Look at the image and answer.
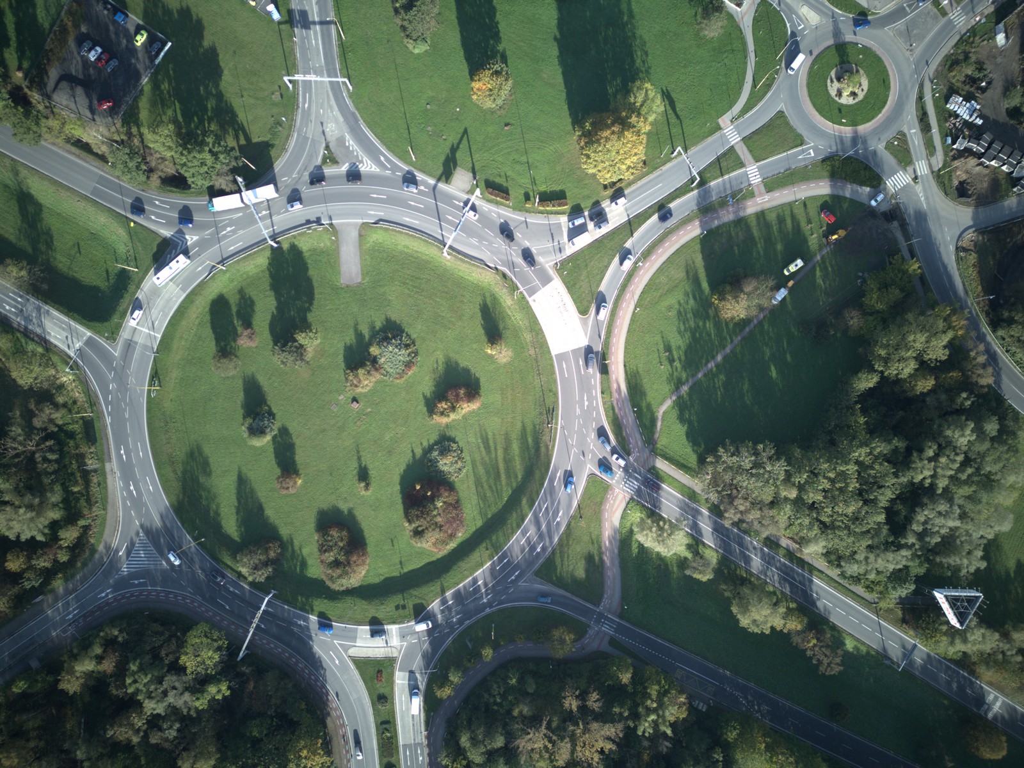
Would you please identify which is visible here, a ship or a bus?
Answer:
bus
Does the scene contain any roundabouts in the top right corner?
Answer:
Yes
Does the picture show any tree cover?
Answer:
Yes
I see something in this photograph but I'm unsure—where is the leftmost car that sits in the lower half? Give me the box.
[166,550,179,565]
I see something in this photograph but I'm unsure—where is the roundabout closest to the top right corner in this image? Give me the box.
[780,11,917,155]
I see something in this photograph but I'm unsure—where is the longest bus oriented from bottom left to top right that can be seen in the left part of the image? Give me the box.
[147,253,191,285]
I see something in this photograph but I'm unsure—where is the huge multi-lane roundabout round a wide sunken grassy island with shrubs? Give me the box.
[101,171,601,659]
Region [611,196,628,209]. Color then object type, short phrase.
white vehicle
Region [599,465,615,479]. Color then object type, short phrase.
blue car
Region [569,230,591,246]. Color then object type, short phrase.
white vehicle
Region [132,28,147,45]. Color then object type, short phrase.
green car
